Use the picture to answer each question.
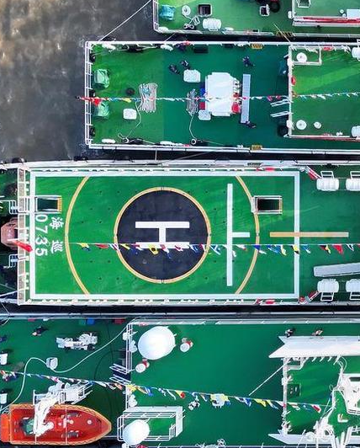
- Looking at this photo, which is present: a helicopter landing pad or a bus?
helicopter landing pad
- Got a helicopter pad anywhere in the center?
Yes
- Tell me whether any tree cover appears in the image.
No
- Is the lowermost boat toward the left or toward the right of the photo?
left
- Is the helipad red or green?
green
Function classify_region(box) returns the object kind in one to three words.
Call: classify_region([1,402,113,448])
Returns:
boat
